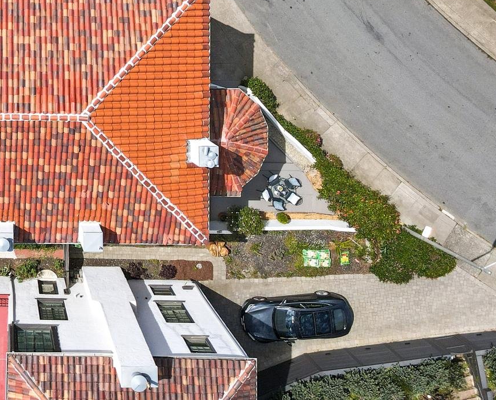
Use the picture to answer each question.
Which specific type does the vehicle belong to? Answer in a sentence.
The vehicle appears to be an automobile.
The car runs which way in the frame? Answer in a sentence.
I'd say the car is aligned horizontally in the picture.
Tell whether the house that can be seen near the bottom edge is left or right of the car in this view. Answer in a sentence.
Compared with the car, the house that can be seen near the bottom edge is located further to the left.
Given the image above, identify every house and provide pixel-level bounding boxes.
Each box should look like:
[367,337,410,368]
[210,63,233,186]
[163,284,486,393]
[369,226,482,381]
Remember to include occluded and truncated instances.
[4,267,261,400]
[0,0,271,253]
